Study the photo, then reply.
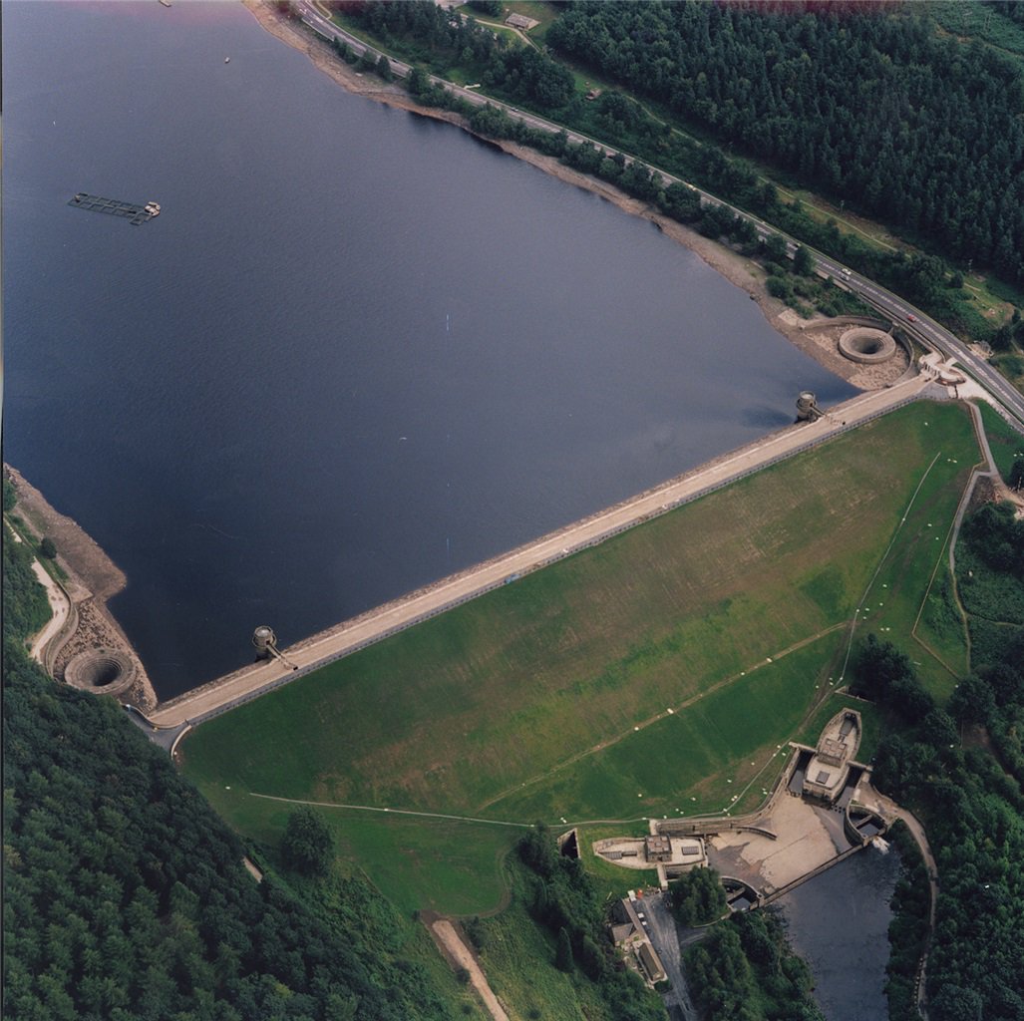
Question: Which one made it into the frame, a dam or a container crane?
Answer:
dam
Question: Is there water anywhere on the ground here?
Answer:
Yes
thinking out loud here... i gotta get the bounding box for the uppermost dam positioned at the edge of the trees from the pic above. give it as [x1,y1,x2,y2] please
[133,373,922,724]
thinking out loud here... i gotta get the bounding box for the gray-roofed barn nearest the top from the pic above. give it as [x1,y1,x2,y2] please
[502,15,533,30]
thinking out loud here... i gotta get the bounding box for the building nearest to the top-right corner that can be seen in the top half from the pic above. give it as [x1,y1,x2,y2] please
[918,351,941,373]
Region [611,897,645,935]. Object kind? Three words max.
house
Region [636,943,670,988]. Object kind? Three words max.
house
